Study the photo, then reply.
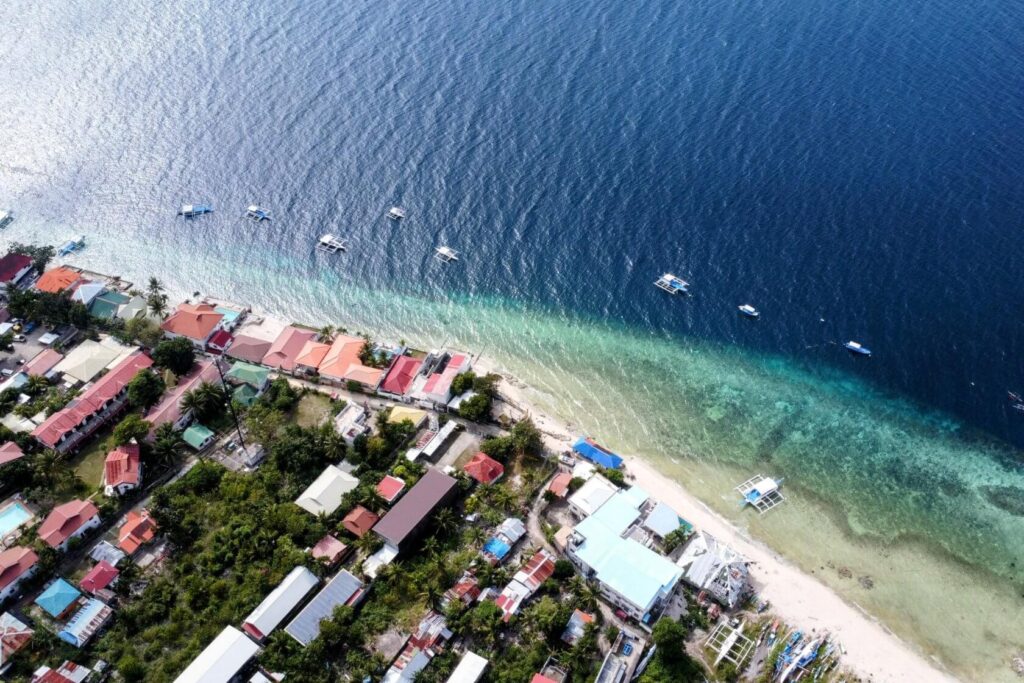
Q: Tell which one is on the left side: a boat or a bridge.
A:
boat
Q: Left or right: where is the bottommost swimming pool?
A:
left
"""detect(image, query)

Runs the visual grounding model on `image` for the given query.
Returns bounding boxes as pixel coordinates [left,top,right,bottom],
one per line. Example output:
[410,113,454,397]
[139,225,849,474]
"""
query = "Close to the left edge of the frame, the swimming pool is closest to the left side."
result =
[0,495,43,548]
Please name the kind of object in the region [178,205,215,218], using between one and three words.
boat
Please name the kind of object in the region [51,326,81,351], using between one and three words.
house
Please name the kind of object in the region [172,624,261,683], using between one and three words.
building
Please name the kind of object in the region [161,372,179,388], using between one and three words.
gazebo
